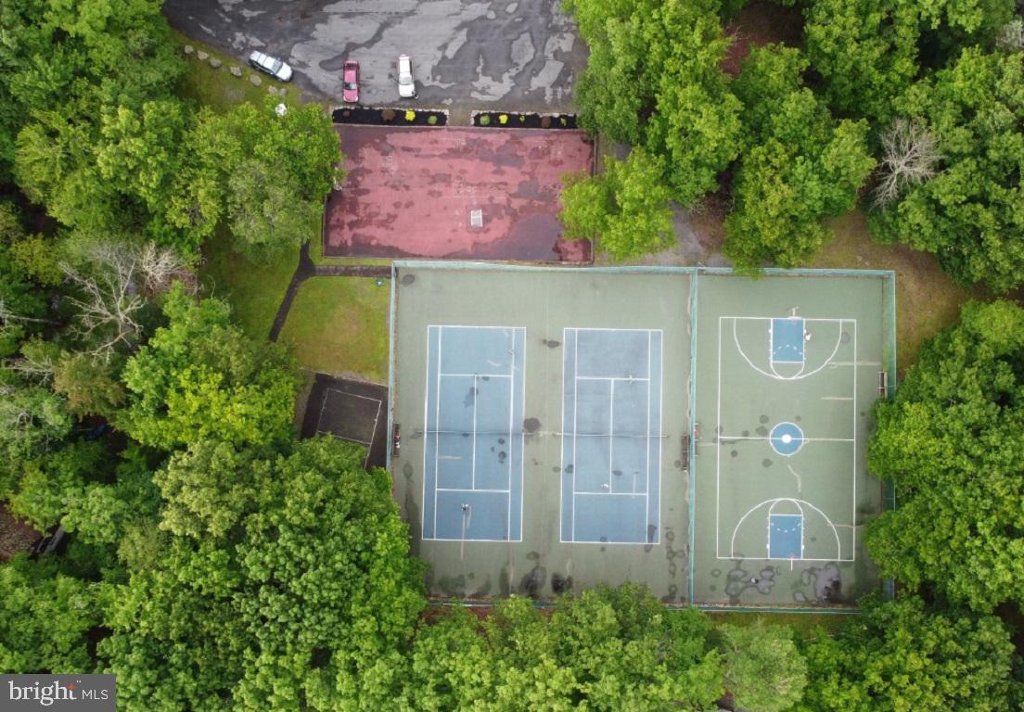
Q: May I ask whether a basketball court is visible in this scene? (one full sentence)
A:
Yes, a basketball court appears in the view.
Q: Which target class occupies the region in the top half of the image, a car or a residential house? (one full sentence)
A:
Looking in the top half of the image, you will find a car.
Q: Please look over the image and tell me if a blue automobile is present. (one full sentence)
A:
No, there appears to be no blue automobile in this shot.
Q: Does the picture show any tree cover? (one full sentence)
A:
Yes, the picture does contain tree cover.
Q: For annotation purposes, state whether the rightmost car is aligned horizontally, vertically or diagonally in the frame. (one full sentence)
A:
The rightmost car has been laid out vertically relative to the frame.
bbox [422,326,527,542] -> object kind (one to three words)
tennis court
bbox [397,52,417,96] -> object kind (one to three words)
car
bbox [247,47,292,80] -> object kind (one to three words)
car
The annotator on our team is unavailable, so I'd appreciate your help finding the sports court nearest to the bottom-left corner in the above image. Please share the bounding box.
[297,372,392,474]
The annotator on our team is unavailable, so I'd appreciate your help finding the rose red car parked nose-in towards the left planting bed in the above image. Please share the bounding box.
[342,59,360,101]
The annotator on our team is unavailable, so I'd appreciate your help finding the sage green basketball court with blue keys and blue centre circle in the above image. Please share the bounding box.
[688,275,882,608]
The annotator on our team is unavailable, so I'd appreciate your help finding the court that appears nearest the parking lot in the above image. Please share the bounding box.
[322,123,598,262]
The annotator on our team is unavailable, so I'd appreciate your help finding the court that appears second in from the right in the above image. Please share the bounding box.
[560,328,663,544]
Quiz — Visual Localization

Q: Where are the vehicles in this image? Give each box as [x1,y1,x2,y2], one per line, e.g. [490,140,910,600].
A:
[342,59,360,101]
[397,52,417,96]
[247,47,292,80]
